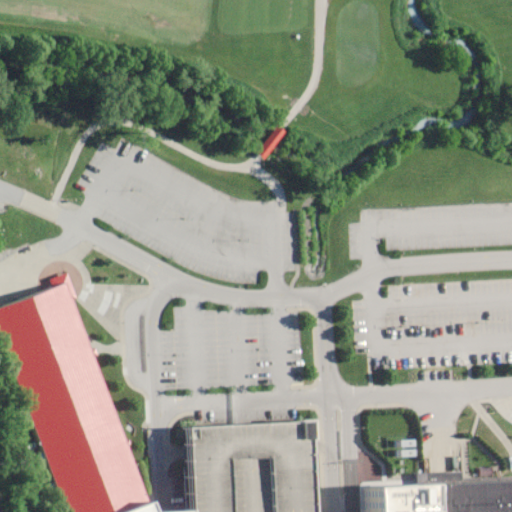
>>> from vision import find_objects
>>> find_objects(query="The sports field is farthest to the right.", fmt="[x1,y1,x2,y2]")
[336,0,380,86]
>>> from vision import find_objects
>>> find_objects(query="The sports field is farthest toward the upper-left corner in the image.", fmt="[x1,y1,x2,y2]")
[0,0,212,44]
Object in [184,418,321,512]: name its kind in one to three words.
building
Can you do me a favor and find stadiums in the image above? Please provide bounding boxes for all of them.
[0,272,148,512]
